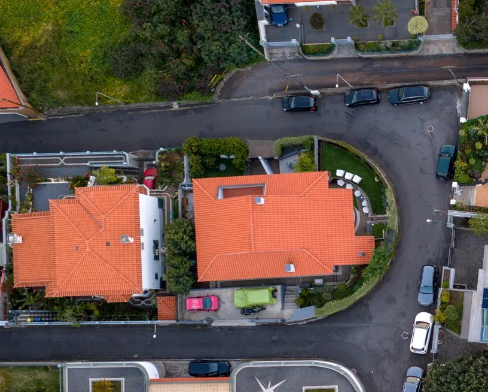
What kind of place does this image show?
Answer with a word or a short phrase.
residential area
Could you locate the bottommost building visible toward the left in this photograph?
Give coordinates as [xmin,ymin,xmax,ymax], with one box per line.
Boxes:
[156,296,184,321]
